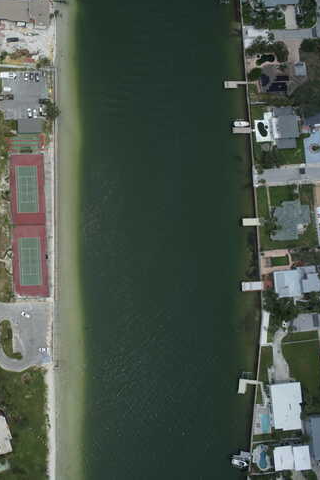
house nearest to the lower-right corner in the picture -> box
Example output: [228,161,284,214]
[292,445,311,471]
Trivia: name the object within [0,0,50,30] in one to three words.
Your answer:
house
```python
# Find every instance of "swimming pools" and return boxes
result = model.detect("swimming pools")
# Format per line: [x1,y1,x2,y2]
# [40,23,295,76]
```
[258,122,269,137]
[256,54,274,66]
[261,414,270,434]
[259,451,267,470]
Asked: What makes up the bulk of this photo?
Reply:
water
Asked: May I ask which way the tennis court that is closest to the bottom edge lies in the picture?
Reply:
from top to bottom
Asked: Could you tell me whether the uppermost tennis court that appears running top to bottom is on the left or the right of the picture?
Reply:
left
